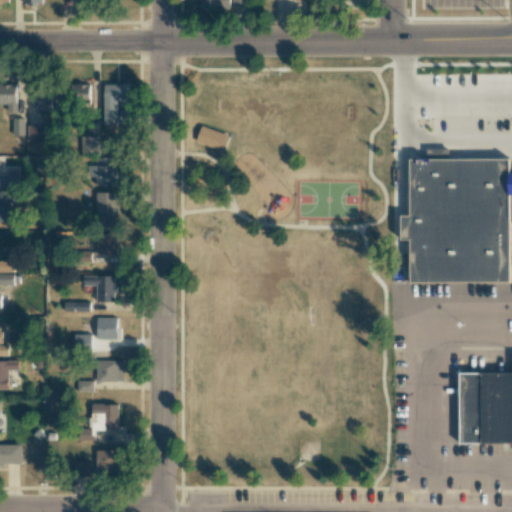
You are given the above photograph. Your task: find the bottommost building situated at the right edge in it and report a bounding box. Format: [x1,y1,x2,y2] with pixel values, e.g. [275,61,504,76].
[460,372,512,444]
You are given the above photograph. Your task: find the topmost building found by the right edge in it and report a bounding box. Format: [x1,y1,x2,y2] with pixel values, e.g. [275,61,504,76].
[400,150,512,282]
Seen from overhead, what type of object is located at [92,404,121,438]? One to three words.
house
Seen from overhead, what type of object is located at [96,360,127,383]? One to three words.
house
